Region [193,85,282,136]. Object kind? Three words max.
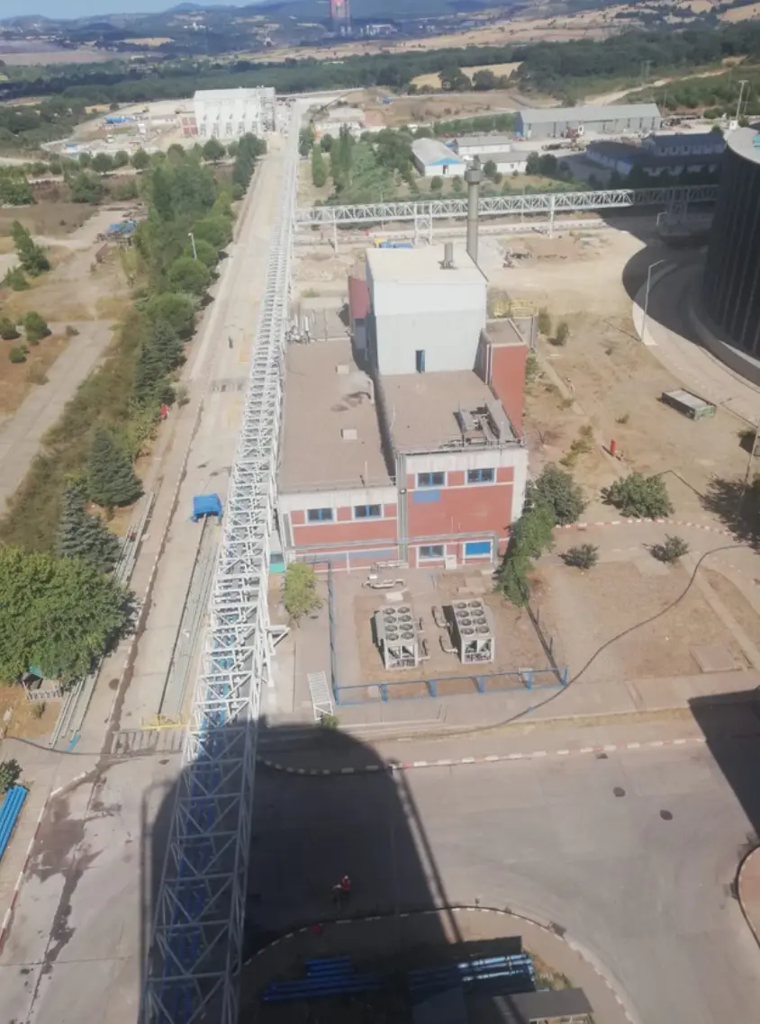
house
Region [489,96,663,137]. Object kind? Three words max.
building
